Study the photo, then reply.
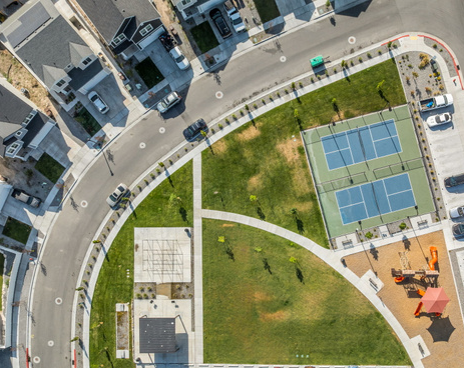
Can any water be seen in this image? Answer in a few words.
No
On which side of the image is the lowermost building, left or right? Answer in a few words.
left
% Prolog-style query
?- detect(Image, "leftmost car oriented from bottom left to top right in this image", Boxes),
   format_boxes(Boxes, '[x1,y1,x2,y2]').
[106,182,129,208]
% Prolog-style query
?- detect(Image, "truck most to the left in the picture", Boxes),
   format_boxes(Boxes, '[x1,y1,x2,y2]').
[9,186,43,207]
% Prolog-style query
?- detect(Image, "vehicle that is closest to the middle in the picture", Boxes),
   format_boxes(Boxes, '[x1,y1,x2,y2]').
[182,120,208,139]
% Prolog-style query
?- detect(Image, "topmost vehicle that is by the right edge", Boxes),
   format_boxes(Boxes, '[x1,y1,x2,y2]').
[418,94,453,112]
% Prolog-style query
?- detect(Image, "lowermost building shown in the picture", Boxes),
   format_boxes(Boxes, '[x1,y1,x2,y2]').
[138,317,177,353]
